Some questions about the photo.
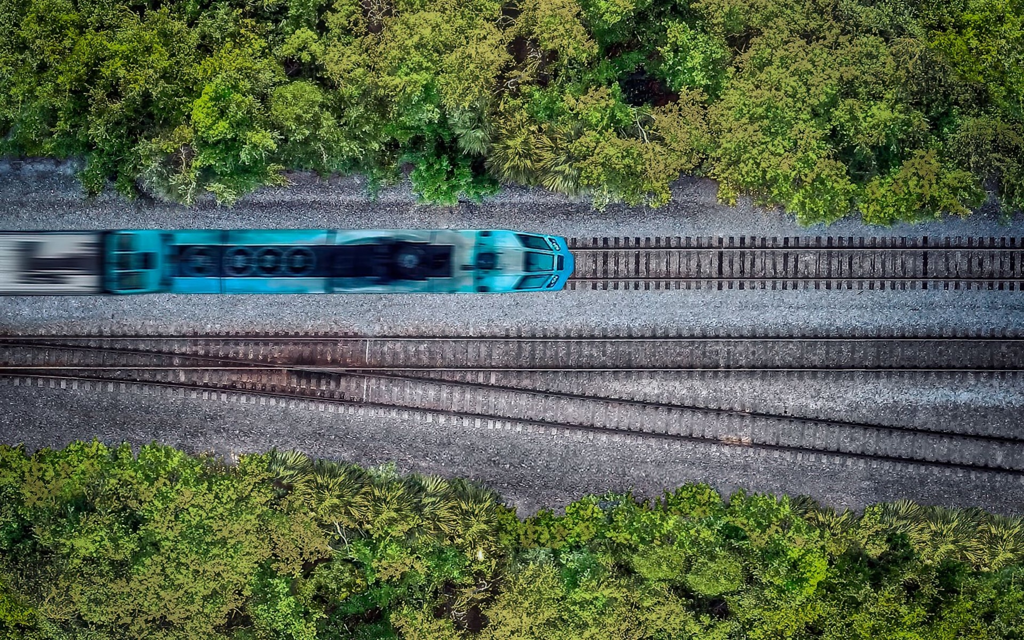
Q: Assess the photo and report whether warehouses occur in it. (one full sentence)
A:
No, I can't see a single warehouse in this photo.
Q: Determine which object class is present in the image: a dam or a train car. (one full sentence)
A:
Of the two, only a train car appears.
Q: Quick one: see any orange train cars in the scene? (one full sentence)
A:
No, no orange train car can be seen from above.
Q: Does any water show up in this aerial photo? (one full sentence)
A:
No, there's no water in this view.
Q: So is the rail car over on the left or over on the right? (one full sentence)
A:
The rail car is on the left side of the image.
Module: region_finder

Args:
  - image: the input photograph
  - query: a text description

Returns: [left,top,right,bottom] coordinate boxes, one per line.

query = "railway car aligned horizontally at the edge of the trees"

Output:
[103,231,574,294]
